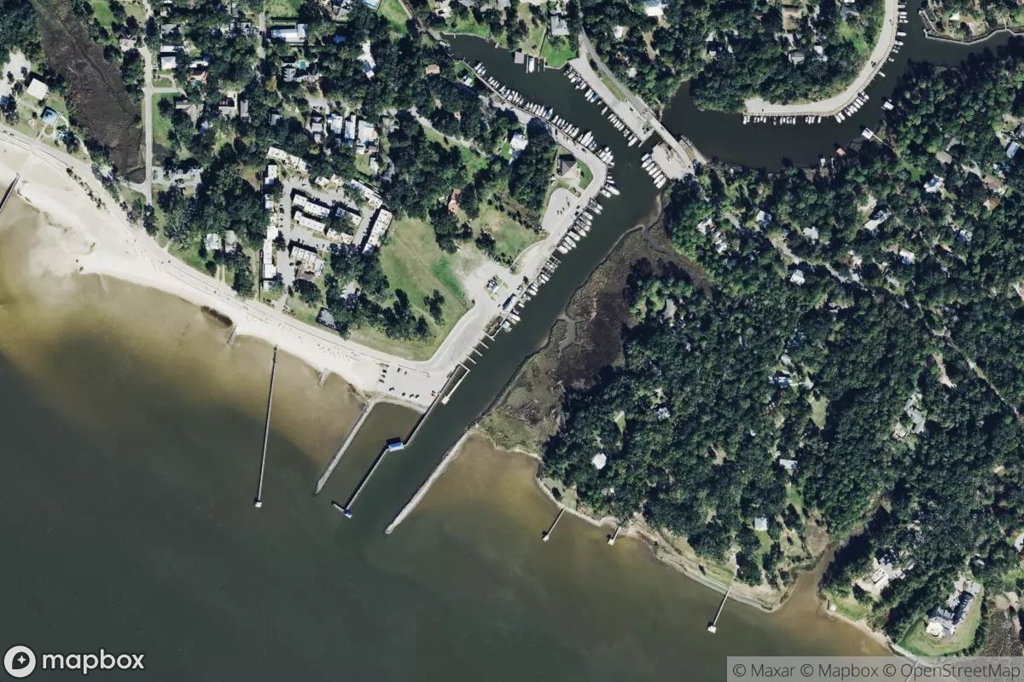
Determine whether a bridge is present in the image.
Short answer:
Yes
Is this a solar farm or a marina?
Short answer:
marina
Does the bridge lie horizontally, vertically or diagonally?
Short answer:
diagonally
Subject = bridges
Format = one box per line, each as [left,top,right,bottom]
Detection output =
[644,106,693,162]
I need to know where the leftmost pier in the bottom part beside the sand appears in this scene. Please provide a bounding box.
[254,345,276,508]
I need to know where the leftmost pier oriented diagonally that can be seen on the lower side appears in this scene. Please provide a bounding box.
[315,400,377,492]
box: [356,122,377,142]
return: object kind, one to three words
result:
house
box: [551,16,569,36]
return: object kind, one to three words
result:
house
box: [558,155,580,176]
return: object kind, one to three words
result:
building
